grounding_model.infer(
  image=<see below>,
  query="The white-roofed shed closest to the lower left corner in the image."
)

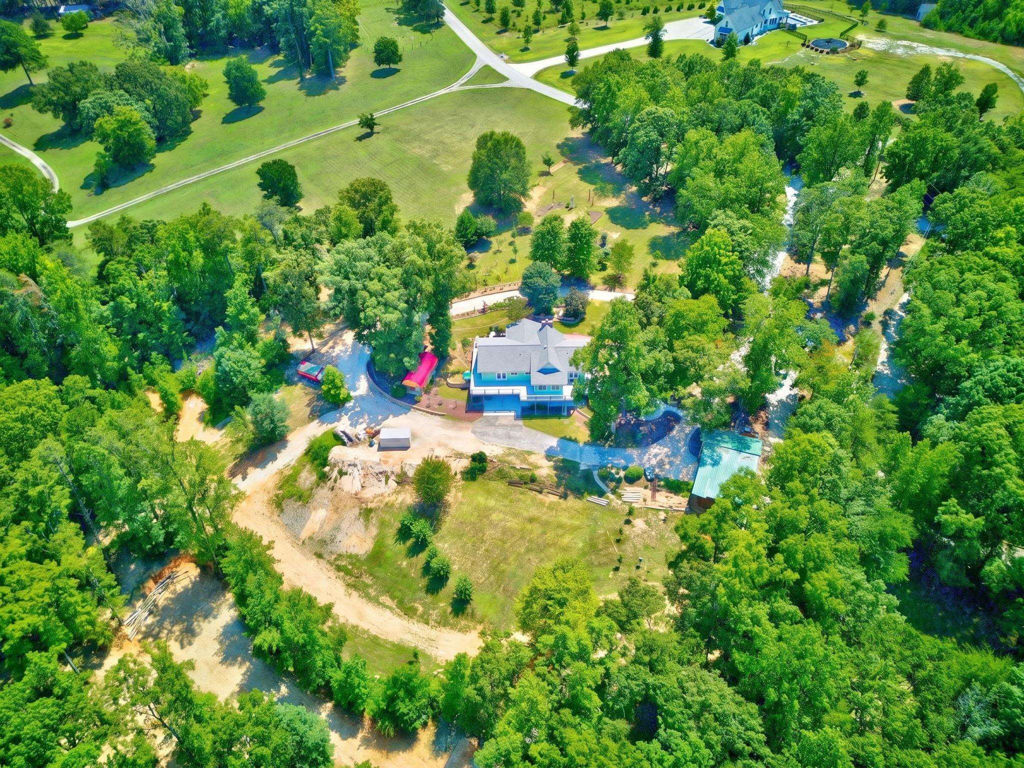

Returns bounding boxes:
[378,428,412,448]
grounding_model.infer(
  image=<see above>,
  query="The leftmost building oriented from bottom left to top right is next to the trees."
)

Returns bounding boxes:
[402,347,442,396]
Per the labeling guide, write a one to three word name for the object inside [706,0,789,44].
house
